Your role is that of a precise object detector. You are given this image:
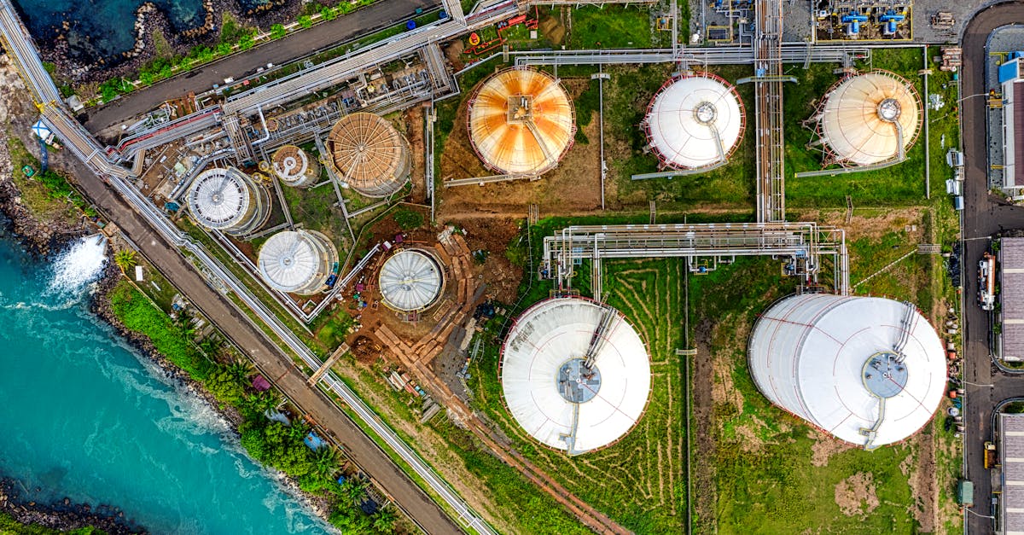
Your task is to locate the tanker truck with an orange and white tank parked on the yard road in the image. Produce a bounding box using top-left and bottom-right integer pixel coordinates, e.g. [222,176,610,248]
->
[976,253,995,310]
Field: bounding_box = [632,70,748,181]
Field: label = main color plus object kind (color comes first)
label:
white storage tank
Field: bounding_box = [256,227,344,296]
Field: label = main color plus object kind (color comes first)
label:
white storage tank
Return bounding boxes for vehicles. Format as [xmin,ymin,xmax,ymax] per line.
[976,253,995,310]
[981,441,997,467]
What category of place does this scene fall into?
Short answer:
industrial area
